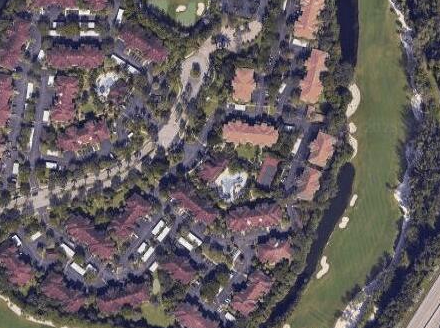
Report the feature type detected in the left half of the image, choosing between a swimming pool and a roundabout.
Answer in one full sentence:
You can see a swimming pool in the left half of the image.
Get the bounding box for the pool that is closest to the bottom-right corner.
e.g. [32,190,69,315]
[216,168,249,202]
